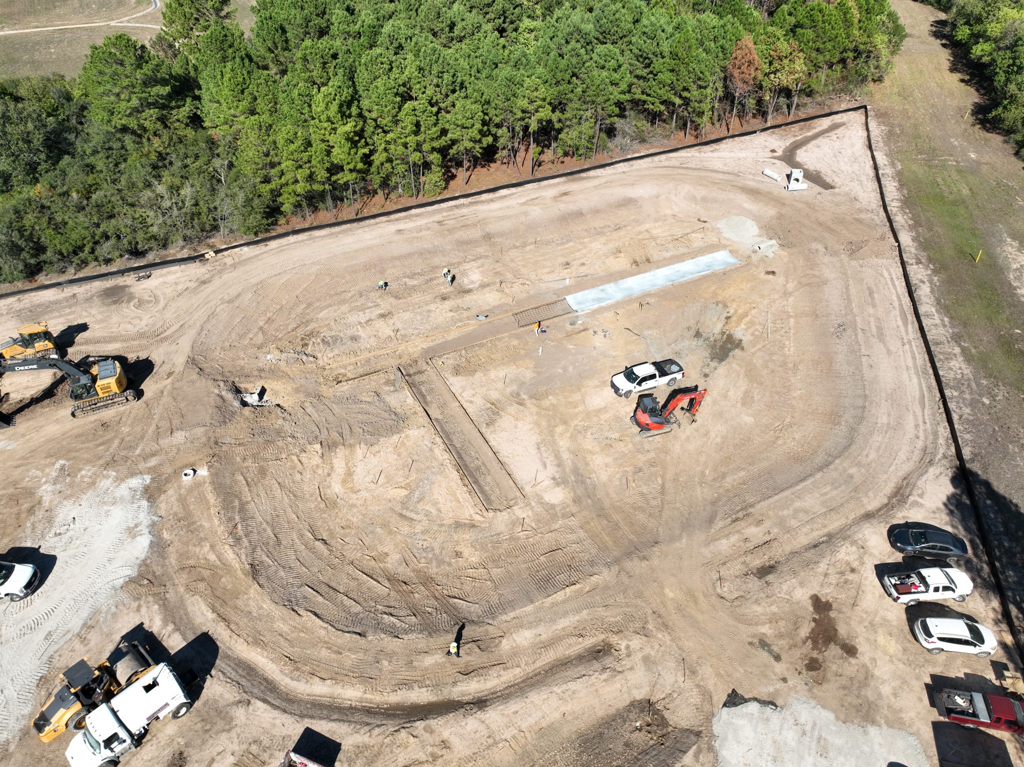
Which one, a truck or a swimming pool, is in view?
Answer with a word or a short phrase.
truck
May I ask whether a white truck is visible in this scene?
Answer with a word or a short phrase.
Yes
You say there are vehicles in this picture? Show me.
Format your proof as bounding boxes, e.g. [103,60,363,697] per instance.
[49,660,195,767]
[933,683,1024,735]
[891,524,973,563]
[912,614,1002,658]
[633,382,711,437]
[0,557,45,602]
[0,353,141,432]
[0,314,72,368]
[883,562,979,606]
[606,356,686,399]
